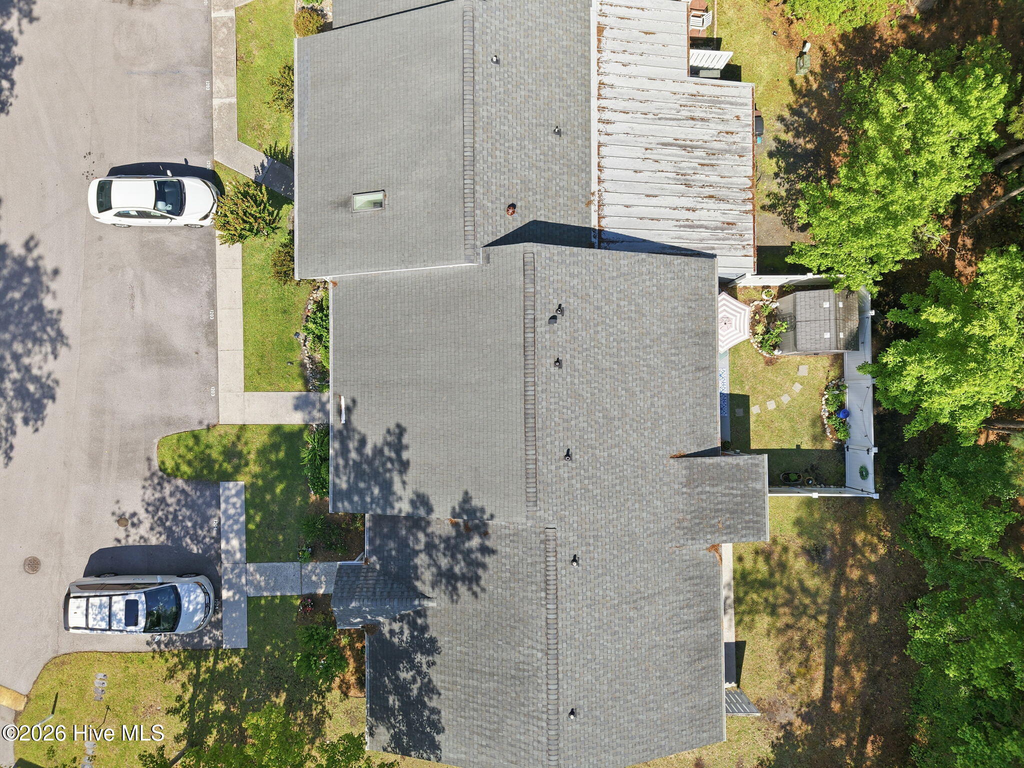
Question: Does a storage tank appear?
No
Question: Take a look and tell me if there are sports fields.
No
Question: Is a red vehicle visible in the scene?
No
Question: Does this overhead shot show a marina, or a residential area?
residential area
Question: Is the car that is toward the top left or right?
left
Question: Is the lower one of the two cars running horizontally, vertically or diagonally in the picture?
horizontally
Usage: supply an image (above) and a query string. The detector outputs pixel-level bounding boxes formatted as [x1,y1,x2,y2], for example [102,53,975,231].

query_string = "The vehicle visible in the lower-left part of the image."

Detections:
[65,571,214,639]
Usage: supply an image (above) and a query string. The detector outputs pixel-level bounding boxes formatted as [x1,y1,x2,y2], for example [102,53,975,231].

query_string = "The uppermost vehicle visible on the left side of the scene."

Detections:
[88,166,225,228]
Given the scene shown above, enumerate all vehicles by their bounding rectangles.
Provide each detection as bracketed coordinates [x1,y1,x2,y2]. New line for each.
[88,166,225,228]
[65,571,214,639]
